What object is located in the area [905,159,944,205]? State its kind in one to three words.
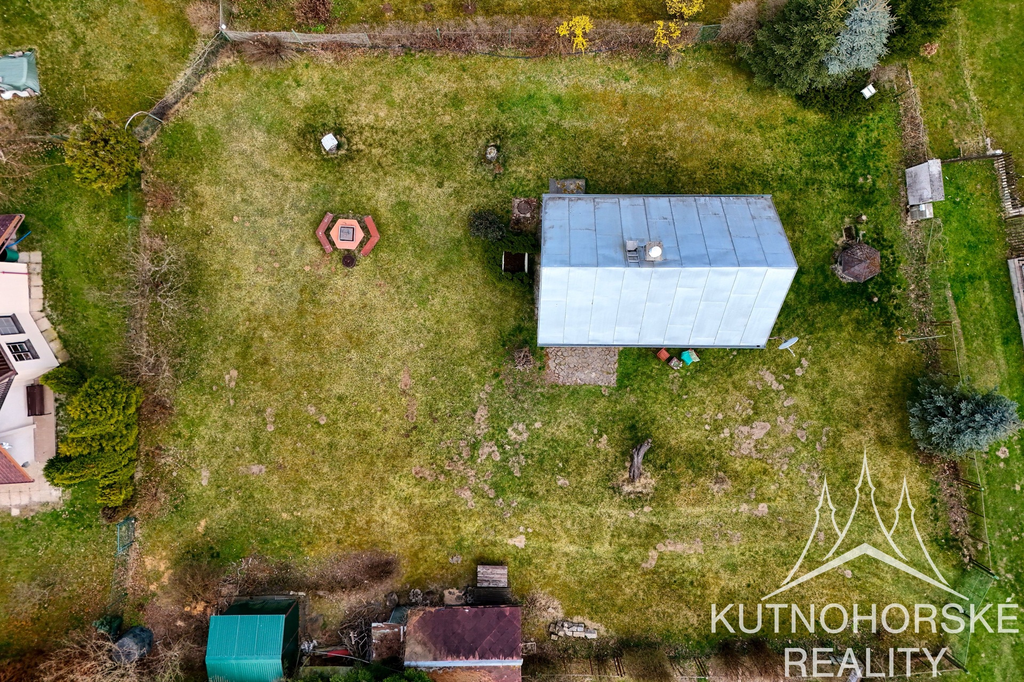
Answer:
shed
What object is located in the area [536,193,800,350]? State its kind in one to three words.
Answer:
house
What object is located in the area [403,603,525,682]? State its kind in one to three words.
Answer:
shed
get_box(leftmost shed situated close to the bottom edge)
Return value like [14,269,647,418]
[205,599,301,682]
